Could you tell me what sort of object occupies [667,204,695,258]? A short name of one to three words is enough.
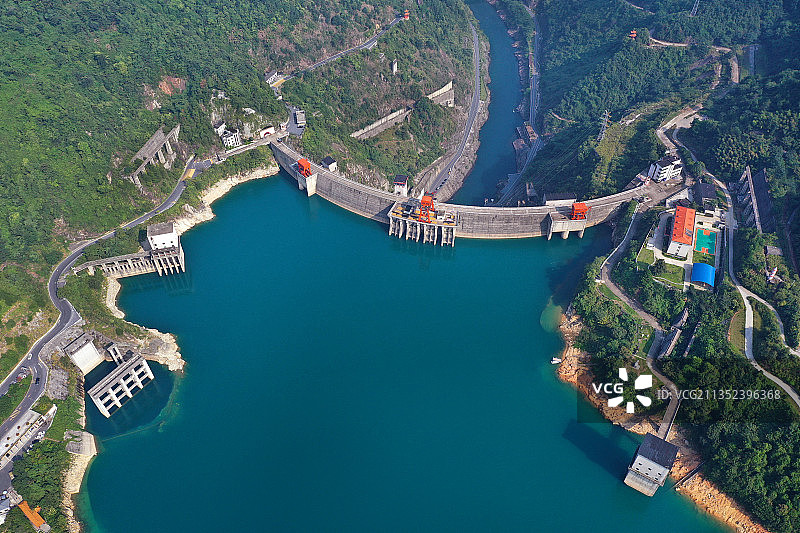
building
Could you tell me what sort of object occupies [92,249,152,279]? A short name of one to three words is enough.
bridge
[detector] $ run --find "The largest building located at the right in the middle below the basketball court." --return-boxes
[688,264,714,293]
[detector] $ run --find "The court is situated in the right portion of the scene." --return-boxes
[695,228,718,256]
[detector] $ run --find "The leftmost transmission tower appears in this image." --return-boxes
[597,114,617,152]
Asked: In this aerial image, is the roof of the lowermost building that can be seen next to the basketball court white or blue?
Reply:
blue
